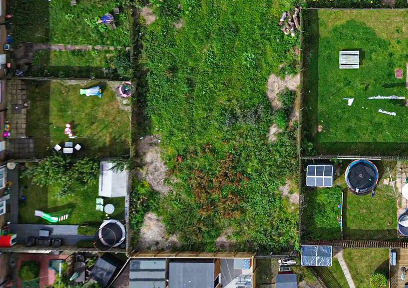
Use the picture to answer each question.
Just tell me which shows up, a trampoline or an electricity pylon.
trampoline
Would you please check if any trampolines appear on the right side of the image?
Yes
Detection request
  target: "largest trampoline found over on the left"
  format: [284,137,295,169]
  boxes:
[91,218,128,254]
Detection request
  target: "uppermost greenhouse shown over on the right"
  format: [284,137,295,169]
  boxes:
[306,162,334,187]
